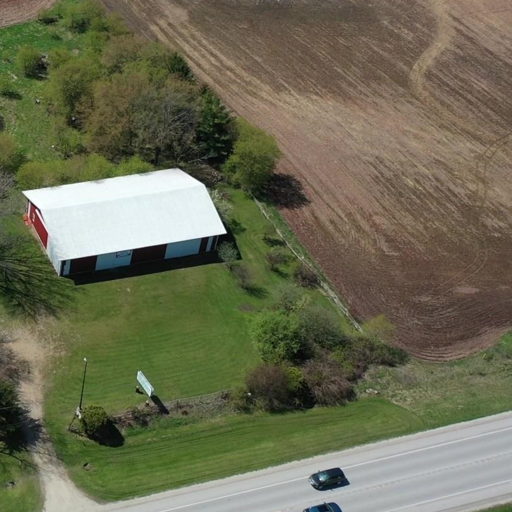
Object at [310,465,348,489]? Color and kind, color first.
black car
